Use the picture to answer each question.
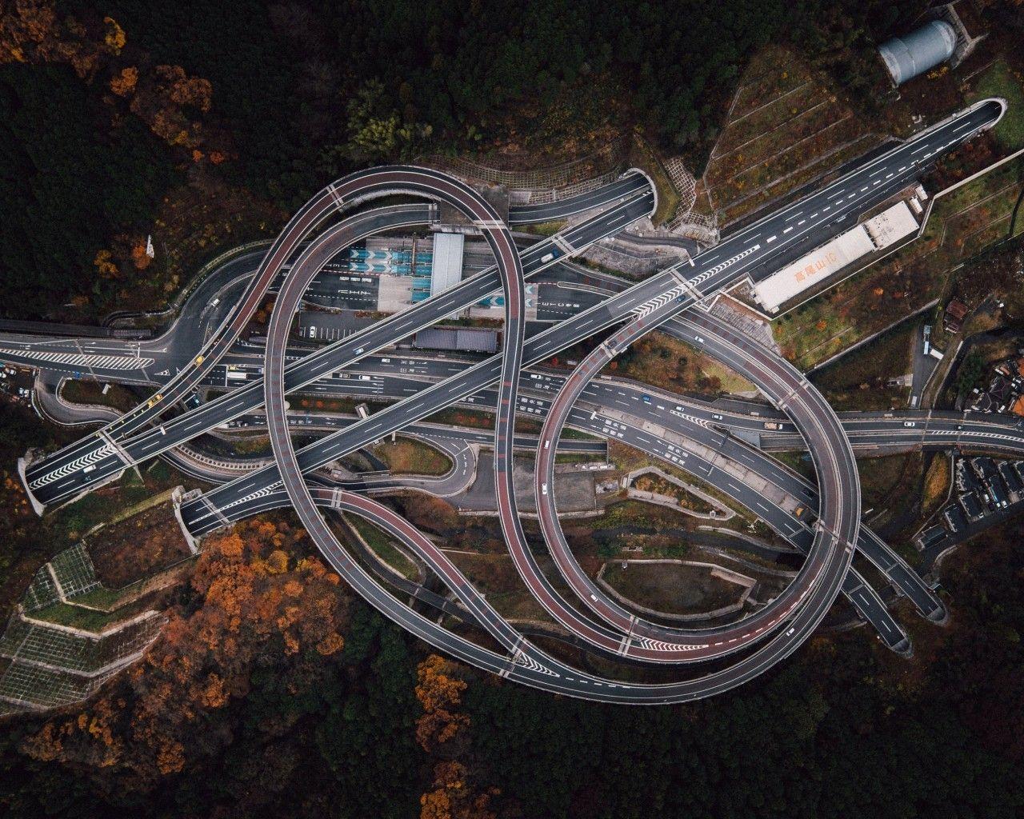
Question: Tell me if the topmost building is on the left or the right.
right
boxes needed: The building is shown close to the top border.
[879,16,962,91]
